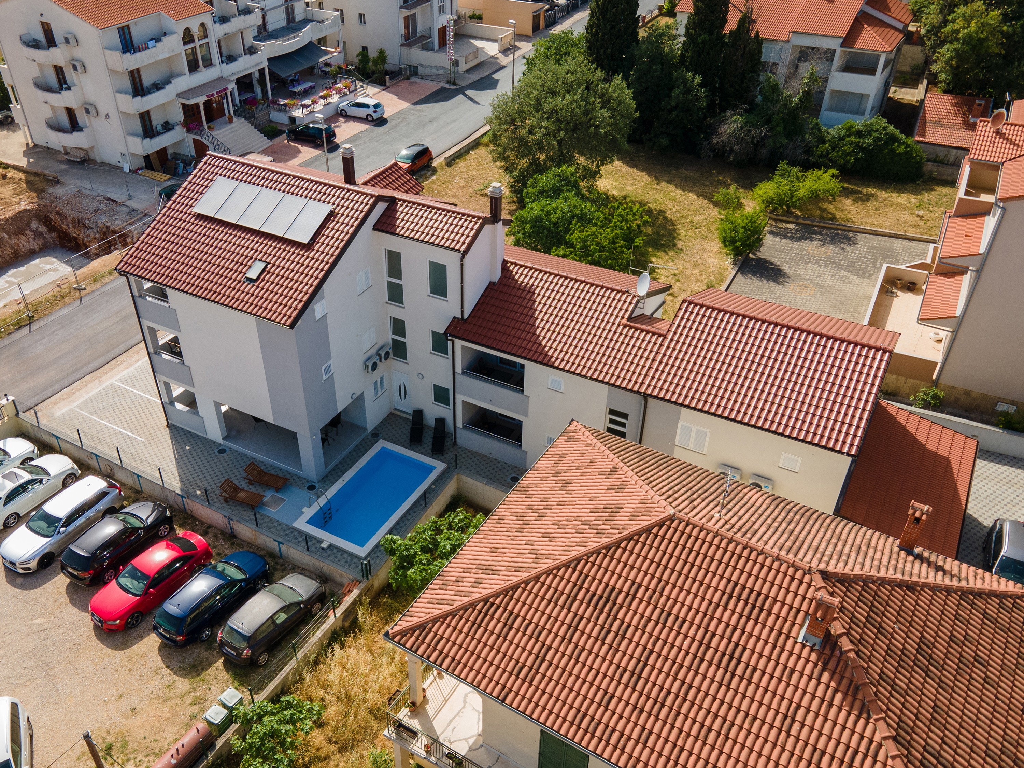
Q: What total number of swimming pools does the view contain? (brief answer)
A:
one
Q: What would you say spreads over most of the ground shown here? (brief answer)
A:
buildings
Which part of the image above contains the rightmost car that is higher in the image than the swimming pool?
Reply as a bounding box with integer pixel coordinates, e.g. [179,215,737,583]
[391,139,439,173]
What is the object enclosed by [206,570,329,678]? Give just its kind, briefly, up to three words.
car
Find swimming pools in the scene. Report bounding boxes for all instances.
[291,438,448,556]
